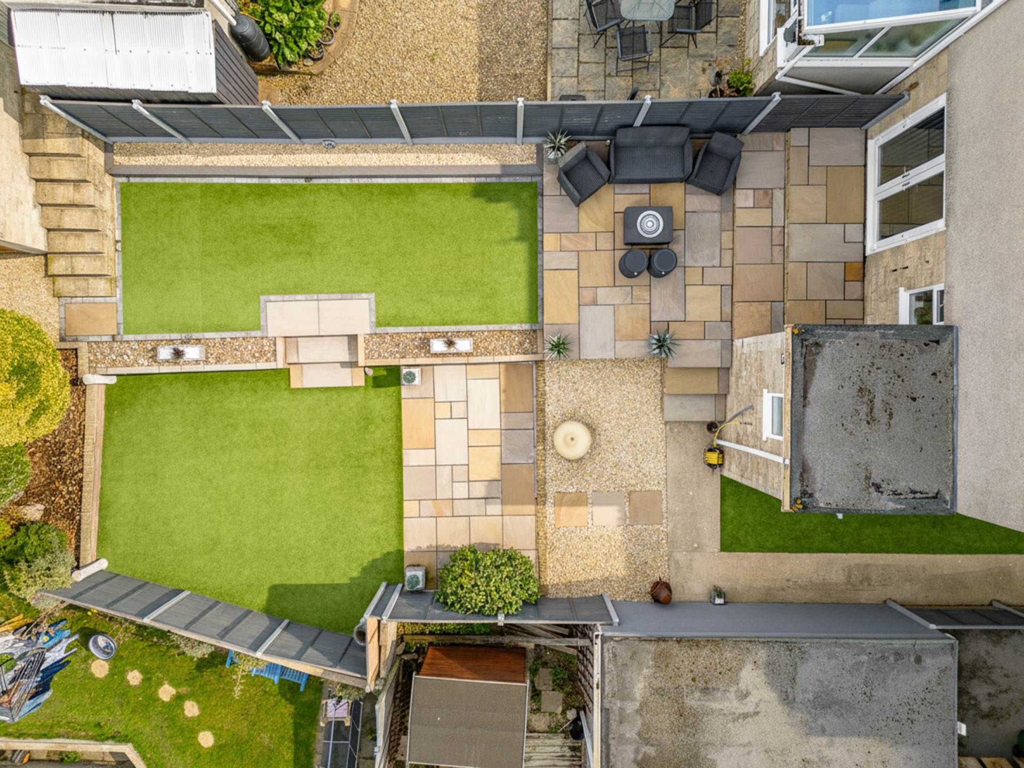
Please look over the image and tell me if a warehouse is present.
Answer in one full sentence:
No, this view has no warehouse in it.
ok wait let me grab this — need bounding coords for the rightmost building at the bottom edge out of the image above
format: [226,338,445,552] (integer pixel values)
[589,599,958,768]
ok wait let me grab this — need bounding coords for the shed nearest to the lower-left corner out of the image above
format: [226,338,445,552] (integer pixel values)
[407,646,528,768]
